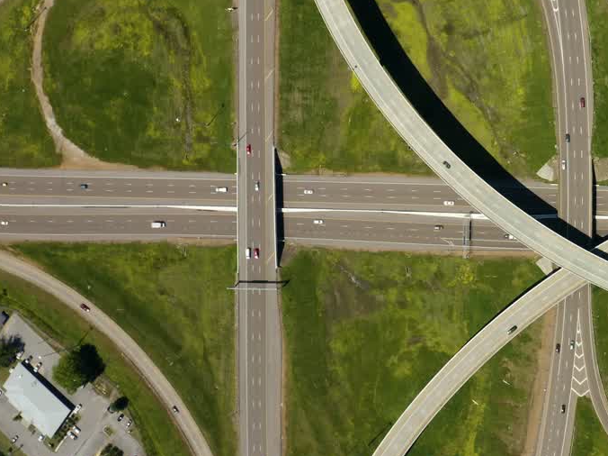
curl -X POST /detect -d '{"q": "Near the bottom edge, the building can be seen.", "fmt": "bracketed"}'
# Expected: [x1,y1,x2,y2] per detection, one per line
[2,361,75,439]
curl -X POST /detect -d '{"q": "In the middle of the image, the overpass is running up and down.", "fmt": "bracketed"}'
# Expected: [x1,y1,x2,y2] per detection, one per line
[235,142,278,272]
